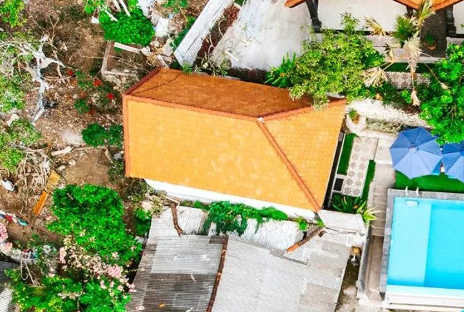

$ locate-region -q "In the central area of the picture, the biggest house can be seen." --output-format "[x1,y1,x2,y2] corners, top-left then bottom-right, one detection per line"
[123,65,354,225]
